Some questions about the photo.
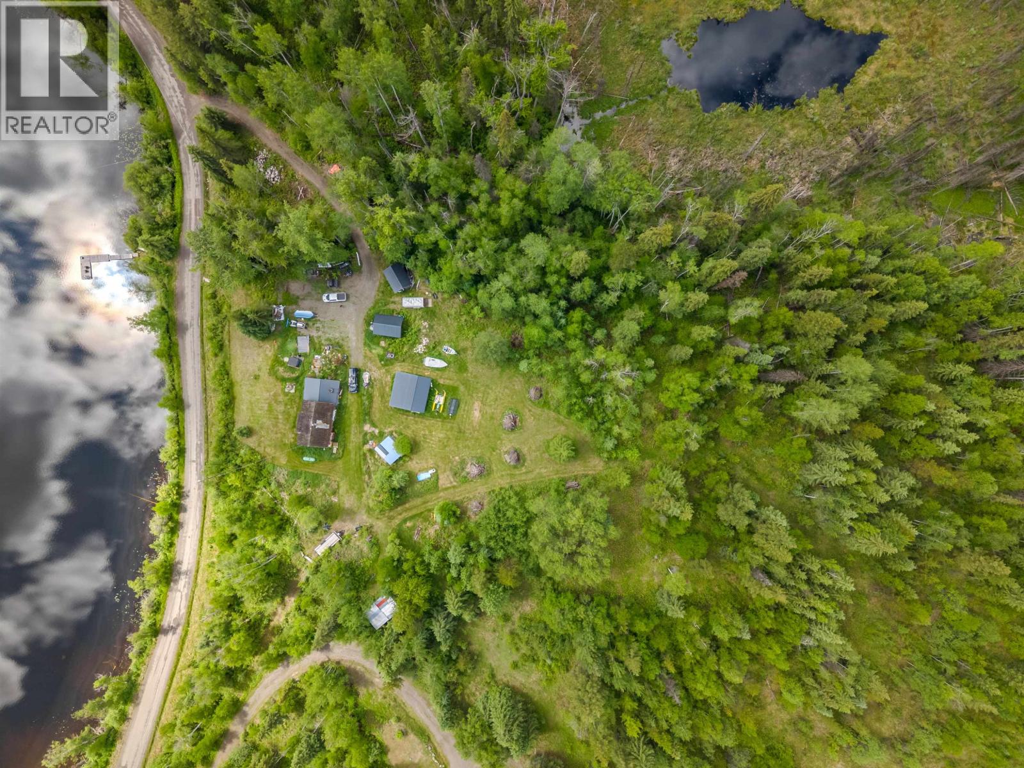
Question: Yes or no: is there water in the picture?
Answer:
Yes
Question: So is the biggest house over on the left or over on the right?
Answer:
left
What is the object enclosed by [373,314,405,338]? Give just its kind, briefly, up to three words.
shed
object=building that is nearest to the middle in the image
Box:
[389,371,432,413]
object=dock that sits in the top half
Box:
[79,253,136,280]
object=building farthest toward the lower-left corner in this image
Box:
[366,595,397,628]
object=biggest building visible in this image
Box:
[297,378,342,453]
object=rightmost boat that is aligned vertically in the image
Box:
[433,390,445,412]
